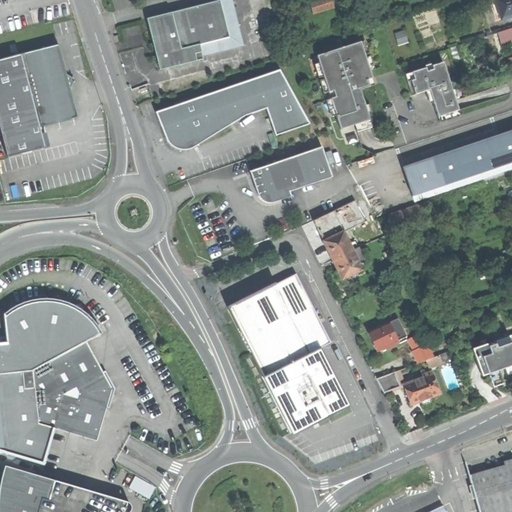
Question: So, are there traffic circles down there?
Yes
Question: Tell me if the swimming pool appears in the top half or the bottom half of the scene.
bottom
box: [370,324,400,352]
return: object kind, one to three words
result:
house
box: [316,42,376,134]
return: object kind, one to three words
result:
building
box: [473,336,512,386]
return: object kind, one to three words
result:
house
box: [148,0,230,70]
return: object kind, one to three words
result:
building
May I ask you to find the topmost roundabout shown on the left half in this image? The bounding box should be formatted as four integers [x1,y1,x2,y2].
[114,192,154,232]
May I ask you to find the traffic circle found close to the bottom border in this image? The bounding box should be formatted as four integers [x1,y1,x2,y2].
[192,460,298,512]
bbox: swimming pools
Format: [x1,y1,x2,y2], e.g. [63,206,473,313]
[440,364,460,391]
